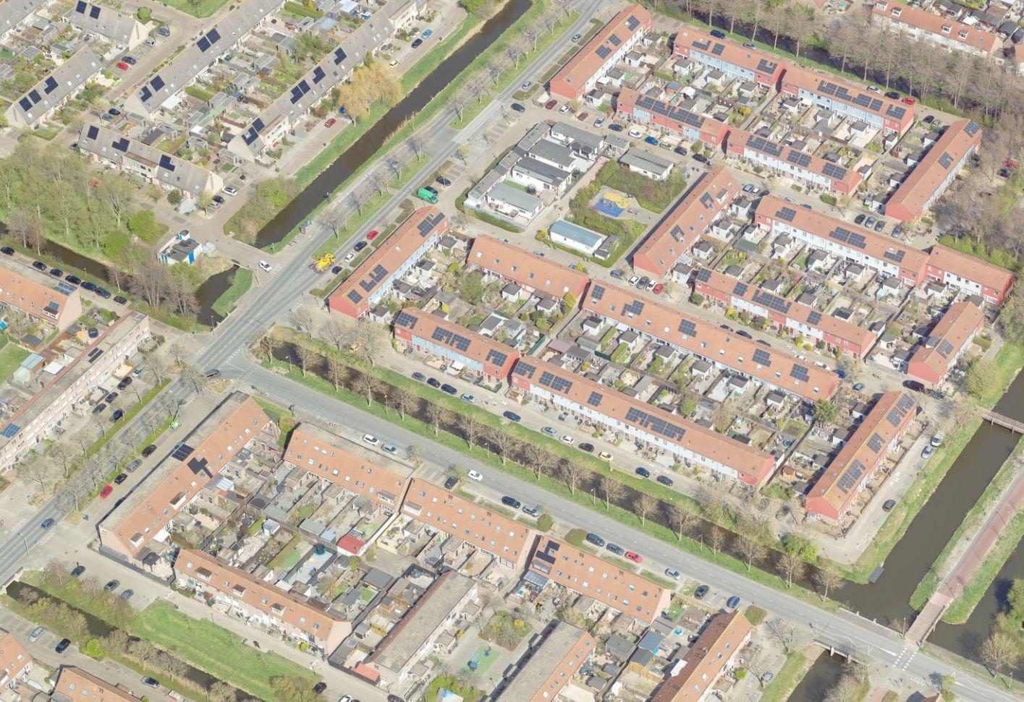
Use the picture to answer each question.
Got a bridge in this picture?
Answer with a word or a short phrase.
Yes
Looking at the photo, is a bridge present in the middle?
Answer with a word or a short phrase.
No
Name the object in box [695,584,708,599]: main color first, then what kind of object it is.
gray vehicle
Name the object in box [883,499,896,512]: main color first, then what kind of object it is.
gray vehicle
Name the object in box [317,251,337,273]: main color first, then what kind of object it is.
yellow vehicle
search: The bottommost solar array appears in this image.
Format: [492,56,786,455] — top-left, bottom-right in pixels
[540,543,562,567]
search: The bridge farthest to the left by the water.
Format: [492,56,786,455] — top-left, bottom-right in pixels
[906,597,952,645]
